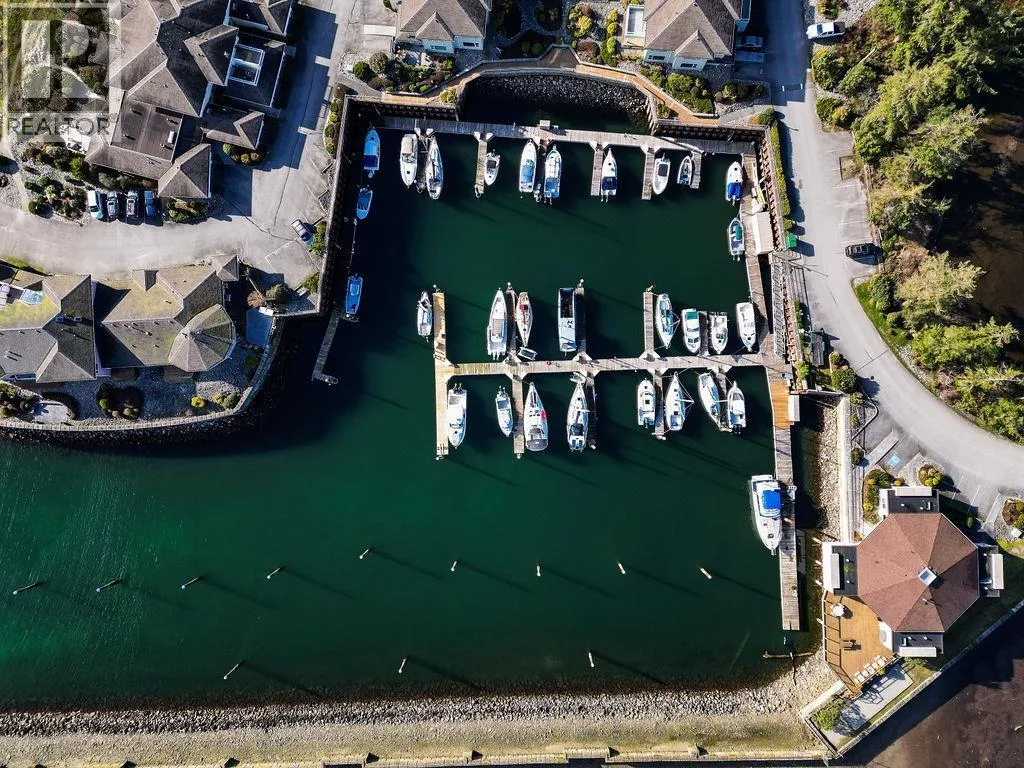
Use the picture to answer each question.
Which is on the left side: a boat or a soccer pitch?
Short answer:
boat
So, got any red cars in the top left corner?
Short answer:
No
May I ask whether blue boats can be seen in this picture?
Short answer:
Yes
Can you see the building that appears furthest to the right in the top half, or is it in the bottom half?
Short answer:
bottom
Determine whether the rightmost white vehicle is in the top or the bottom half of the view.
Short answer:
top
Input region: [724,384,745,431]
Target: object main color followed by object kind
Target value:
white boat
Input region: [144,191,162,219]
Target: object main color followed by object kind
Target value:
blue car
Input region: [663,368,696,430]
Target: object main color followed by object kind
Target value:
white boat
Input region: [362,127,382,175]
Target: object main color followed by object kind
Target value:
blue boat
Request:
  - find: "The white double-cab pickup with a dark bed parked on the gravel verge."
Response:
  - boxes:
[805,22,845,42]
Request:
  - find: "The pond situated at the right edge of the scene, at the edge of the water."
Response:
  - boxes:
[926,0,1024,398]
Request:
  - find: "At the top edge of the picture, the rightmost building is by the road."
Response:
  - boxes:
[640,0,750,70]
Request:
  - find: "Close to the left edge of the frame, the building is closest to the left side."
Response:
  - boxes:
[0,261,112,383]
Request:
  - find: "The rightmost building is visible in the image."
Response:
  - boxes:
[822,484,1004,657]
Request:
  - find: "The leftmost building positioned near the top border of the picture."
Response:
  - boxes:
[88,0,293,200]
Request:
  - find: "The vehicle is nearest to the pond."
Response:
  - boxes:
[843,243,875,259]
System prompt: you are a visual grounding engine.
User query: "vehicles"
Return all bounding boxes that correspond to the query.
[88,190,108,220]
[843,243,875,259]
[144,191,162,219]
[805,22,845,42]
[126,190,144,220]
[291,220,316,247]
[107,191,124,220]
